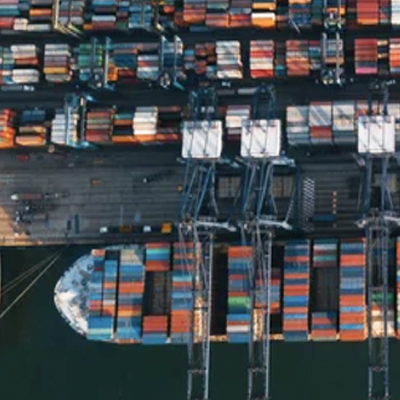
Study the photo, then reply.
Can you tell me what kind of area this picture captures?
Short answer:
port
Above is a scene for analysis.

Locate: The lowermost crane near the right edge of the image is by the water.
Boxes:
[352,80,400,400]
